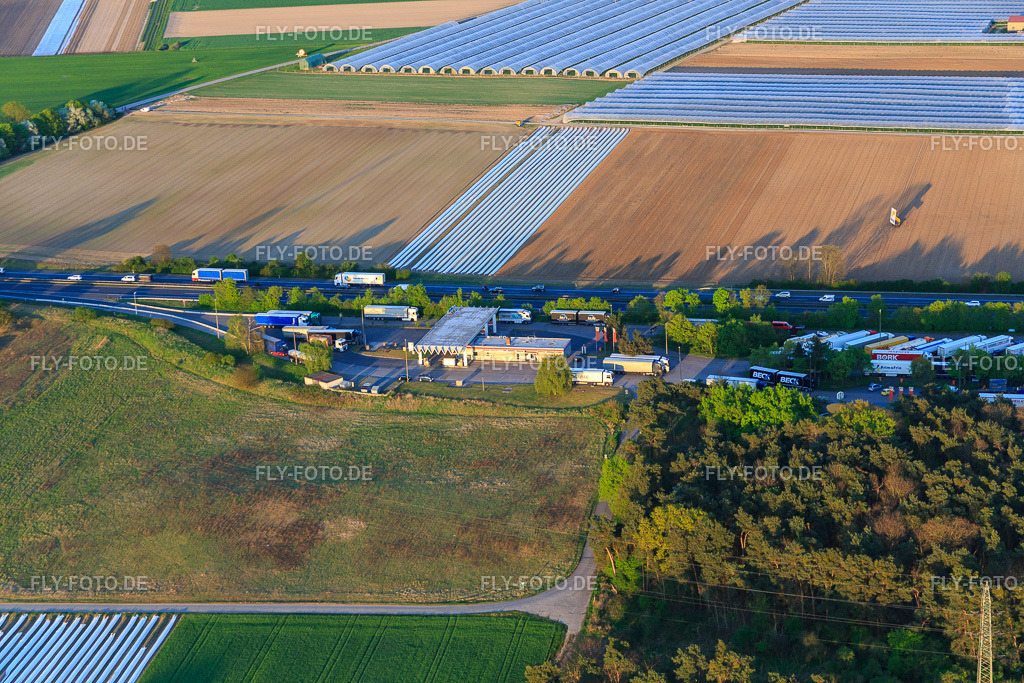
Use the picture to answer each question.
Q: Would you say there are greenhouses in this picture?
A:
Yes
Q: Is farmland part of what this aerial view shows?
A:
Yes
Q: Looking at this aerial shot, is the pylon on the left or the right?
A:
right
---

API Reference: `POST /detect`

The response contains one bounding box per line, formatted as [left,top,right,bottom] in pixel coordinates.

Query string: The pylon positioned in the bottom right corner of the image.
[964,580,1009,683]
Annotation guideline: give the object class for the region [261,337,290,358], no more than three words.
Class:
truck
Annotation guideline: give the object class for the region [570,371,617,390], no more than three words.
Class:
vehicle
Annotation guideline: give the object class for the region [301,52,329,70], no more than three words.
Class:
barn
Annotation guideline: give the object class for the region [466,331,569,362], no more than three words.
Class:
building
